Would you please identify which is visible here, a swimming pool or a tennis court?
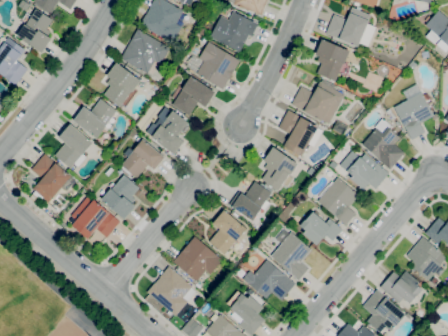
swimming pool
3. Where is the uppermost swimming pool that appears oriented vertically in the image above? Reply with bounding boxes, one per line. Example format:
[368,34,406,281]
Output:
[0,0,12,26]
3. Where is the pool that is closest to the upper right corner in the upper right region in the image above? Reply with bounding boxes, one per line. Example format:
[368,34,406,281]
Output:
[395,2,417,18]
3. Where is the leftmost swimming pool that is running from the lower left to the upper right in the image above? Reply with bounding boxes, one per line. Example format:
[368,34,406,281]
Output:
[78,160,98,176]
